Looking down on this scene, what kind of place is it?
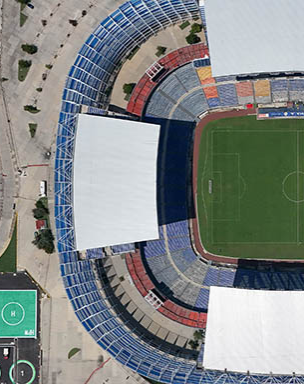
sports ground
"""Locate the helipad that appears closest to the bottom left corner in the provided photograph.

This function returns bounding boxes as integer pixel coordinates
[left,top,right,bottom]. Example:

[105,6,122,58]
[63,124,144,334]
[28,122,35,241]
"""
[8,360,35,384]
